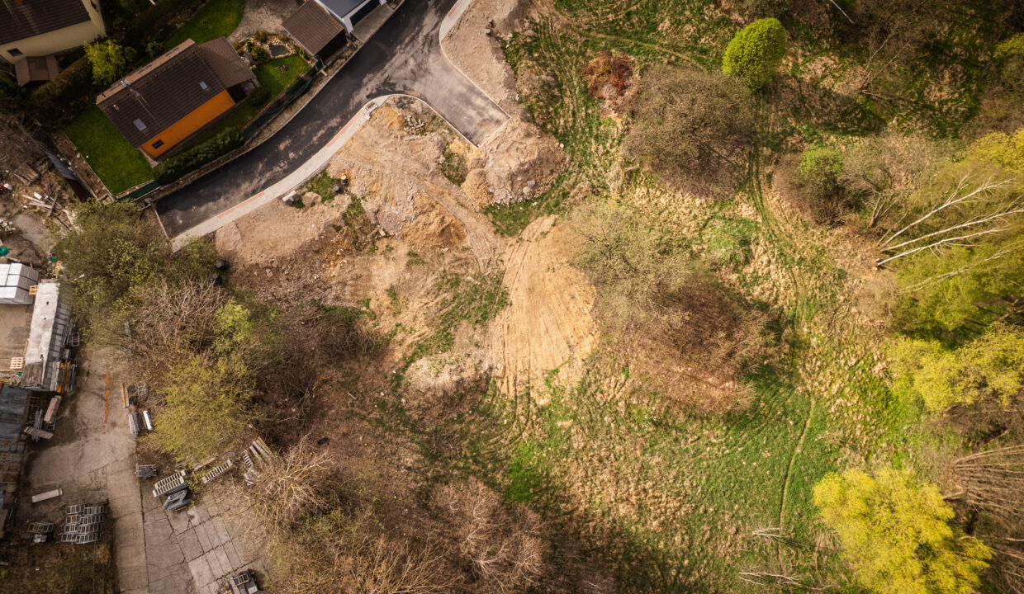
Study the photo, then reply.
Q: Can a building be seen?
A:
Yes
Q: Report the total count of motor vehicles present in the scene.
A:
none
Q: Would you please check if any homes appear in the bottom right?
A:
No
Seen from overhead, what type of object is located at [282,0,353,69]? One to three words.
building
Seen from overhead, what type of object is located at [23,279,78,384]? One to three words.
shed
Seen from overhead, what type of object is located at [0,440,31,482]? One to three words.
shed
